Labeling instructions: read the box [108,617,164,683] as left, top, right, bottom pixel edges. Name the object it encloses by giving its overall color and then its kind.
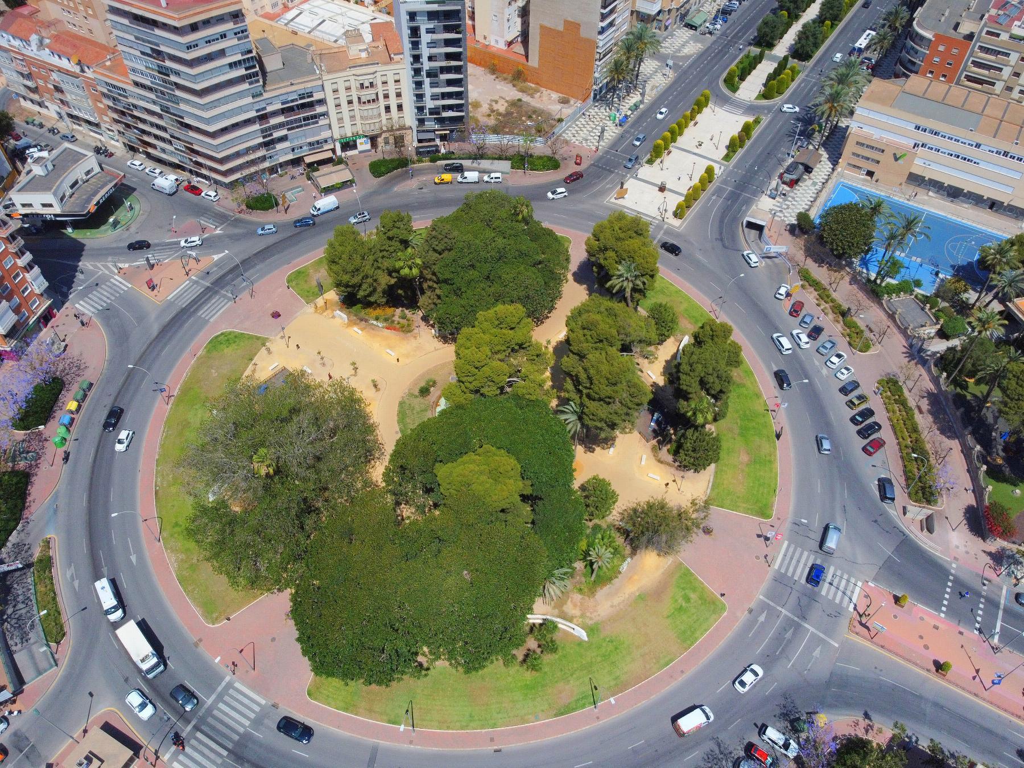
white truck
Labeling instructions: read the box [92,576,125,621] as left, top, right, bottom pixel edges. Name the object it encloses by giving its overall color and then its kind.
white van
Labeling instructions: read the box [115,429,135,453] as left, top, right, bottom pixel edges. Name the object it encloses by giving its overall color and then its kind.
white car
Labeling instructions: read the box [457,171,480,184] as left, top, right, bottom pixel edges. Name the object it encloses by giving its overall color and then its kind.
white vehicle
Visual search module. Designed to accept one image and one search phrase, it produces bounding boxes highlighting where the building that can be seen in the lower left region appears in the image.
[55,727,147,768]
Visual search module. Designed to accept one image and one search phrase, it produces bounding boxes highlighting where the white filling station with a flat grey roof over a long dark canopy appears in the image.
[5,143,128,232]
